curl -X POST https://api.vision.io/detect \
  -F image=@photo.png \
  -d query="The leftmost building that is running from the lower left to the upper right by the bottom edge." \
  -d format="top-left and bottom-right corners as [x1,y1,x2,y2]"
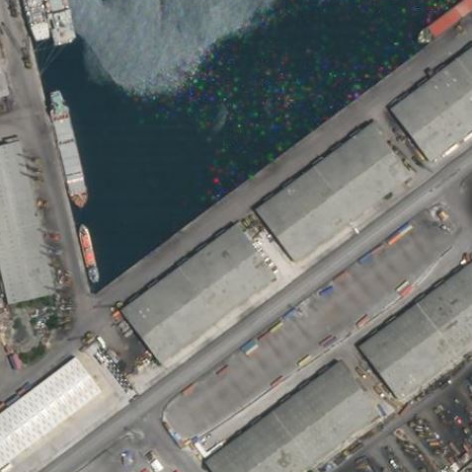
[0,357,101,468]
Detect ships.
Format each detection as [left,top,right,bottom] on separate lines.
[24,0,50,43]
[418,0,472,46]
[43,0,76,45]
[50,91,86,208]
[80,225,99,284]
